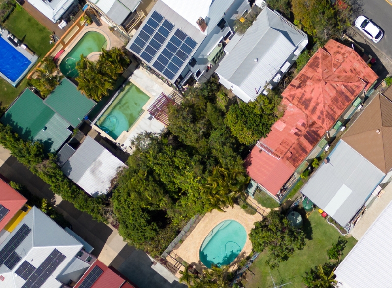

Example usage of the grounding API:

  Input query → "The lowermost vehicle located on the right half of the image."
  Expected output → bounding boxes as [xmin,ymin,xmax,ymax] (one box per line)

[353,16,384,43]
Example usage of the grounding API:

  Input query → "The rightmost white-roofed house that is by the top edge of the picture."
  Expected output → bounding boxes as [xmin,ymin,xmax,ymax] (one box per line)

[214,6,307,104]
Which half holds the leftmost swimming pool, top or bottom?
top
